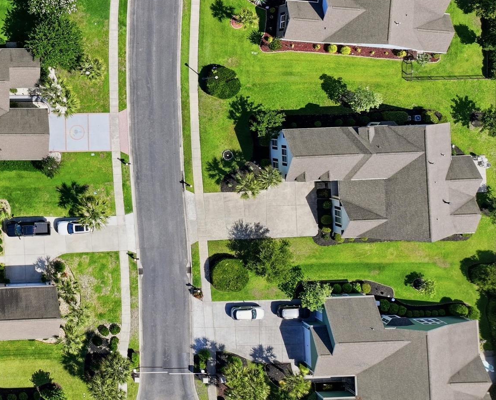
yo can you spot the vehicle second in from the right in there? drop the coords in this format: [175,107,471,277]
[230,305,265,324]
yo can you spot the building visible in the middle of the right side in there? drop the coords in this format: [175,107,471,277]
[270,120,485,242]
